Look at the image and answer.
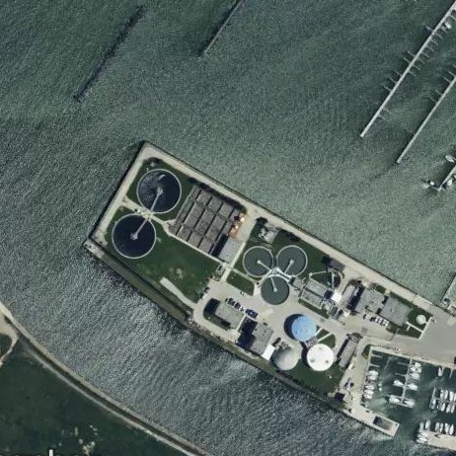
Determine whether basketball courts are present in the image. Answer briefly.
No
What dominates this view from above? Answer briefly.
water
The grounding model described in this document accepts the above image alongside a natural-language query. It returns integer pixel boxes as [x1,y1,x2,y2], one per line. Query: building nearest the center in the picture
[220,236,243,260]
